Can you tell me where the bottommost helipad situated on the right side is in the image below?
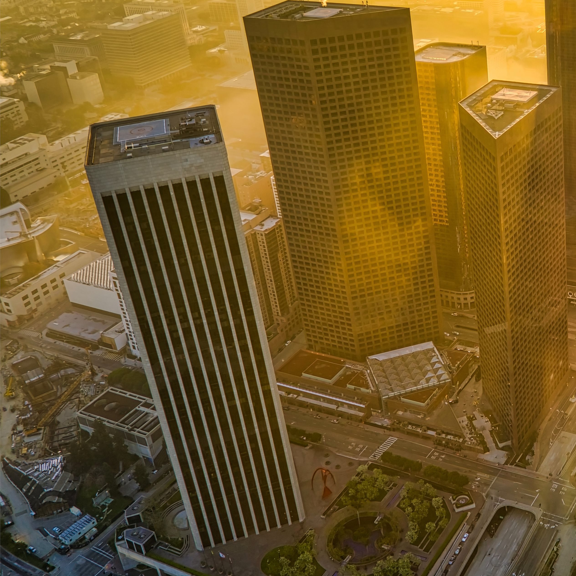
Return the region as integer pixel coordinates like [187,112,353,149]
[492,89,537,104]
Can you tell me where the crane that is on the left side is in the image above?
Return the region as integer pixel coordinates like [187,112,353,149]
[24,361,100,438]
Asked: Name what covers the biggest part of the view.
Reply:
buildings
